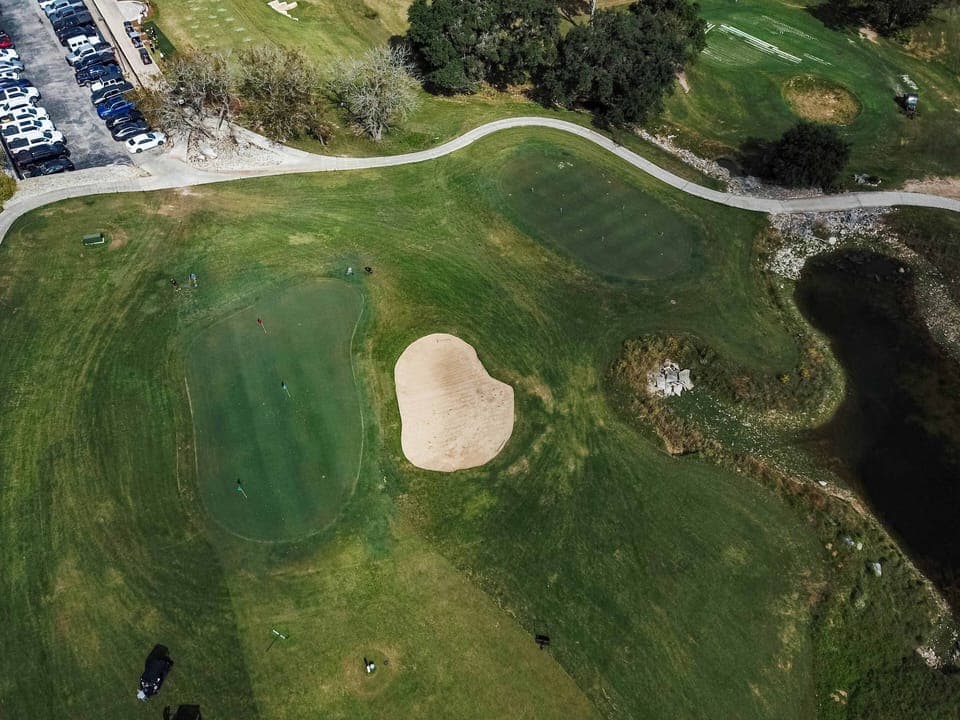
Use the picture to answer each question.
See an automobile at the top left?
Yes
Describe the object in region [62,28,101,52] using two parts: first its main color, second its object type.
white car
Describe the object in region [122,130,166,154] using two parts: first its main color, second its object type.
white car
